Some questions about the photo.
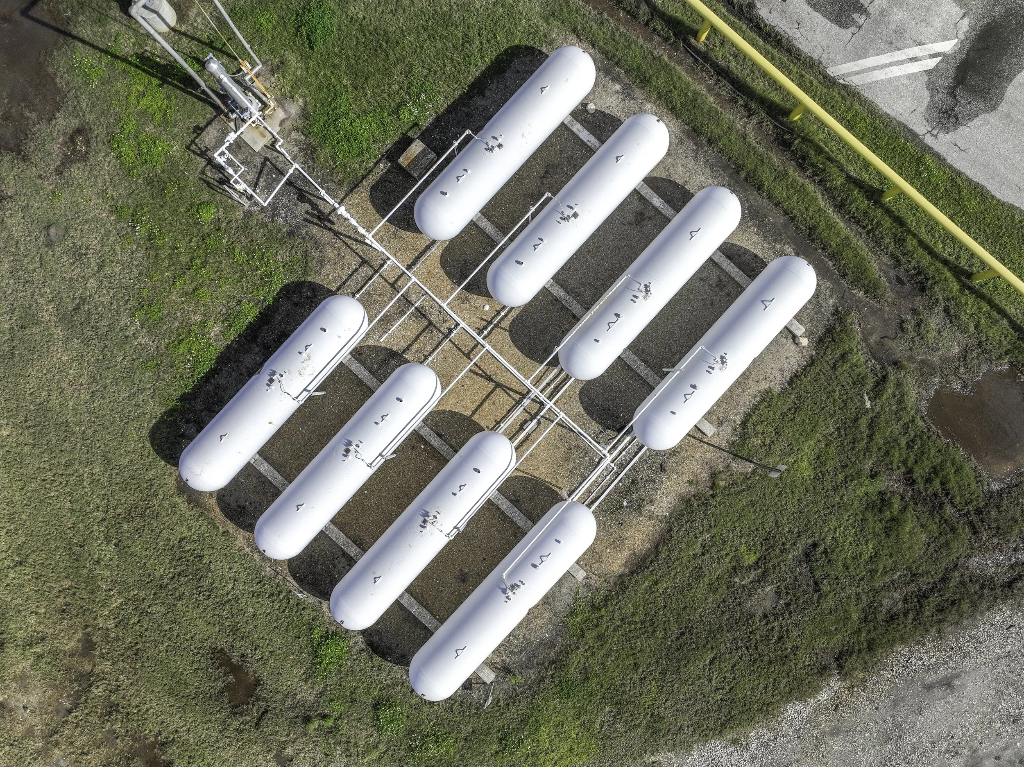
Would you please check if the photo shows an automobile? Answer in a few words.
No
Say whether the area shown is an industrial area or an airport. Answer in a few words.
industrial area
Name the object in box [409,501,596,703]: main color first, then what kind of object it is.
white storage tank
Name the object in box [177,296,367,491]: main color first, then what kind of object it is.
white storage tank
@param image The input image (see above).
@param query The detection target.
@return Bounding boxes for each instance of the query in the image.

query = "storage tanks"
[330,431,515,631]
[177,296,367,491]
[253,364,440,560]
[488,113,668,306]
[633,256,817,449]
[409,501,596,703]
[559,186,741,379]
[415,44,594,239]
